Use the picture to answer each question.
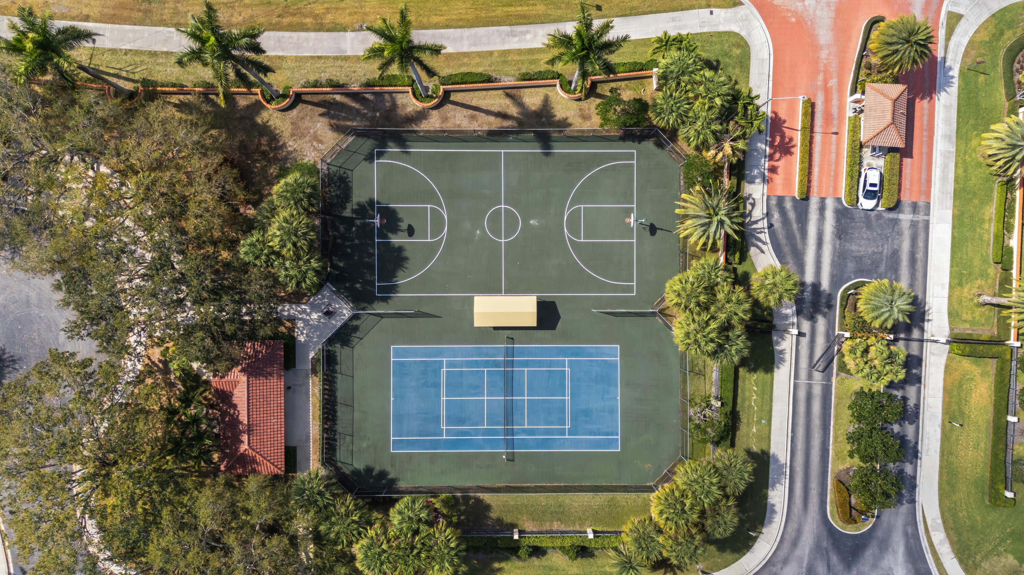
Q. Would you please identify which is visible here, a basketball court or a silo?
basketball court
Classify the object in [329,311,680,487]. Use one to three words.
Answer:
tennis court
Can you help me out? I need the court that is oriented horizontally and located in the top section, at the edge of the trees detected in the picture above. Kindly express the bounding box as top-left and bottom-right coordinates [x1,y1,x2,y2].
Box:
[328,135,681,311]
